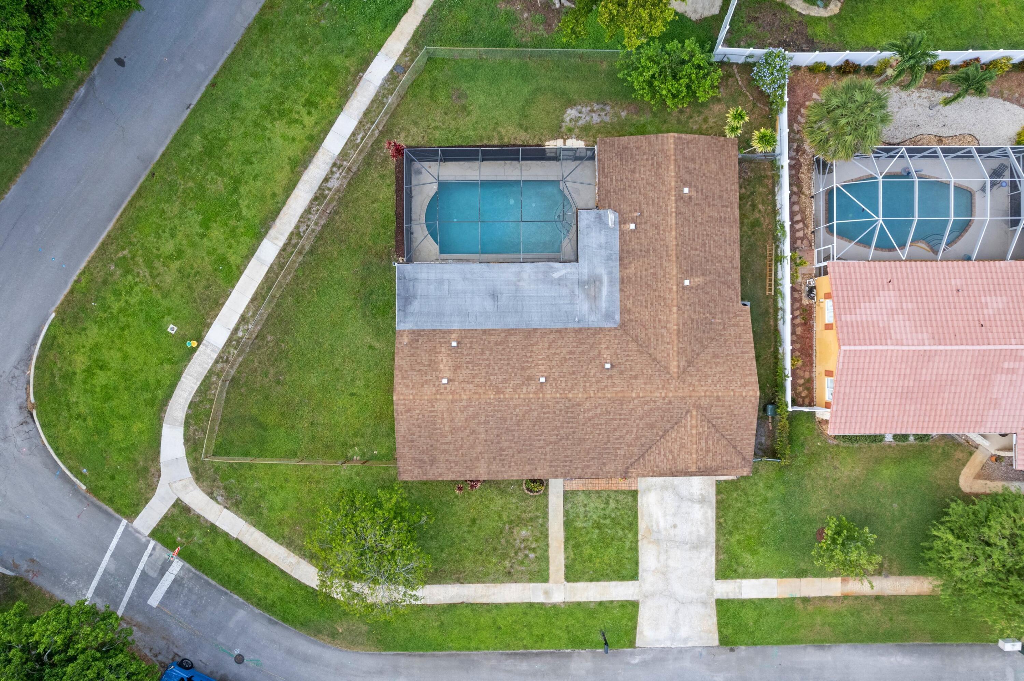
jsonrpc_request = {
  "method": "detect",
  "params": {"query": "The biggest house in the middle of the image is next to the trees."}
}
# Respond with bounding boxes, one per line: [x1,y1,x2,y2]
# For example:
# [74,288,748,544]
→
[393,132,760,481]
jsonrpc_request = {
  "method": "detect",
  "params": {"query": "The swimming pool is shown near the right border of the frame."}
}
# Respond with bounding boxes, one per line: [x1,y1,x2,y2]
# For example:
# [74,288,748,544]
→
[825,171,976,254]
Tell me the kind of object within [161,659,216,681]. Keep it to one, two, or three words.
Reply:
car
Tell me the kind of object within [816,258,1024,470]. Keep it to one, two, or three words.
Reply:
house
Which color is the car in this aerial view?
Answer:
blue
